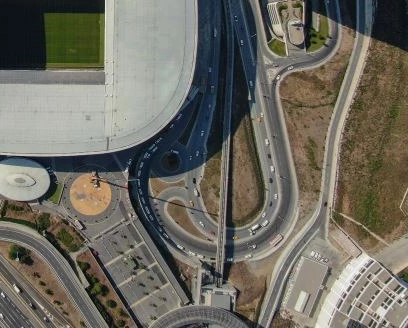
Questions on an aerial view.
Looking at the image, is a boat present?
No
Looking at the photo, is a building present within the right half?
Yes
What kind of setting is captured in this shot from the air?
sports ground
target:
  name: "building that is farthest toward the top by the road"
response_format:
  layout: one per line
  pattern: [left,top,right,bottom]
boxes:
[265,0,306,55]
